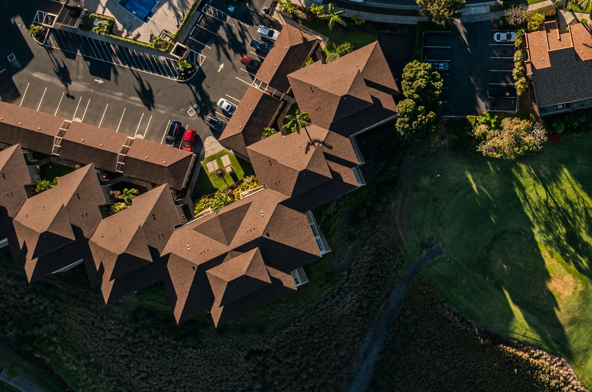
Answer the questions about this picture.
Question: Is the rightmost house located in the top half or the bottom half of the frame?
top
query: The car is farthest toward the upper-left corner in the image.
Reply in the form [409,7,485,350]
[166,121,183,146]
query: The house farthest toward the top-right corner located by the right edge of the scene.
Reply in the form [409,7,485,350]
[526,17,592,113]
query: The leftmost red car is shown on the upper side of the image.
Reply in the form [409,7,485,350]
[183,129,197,151]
